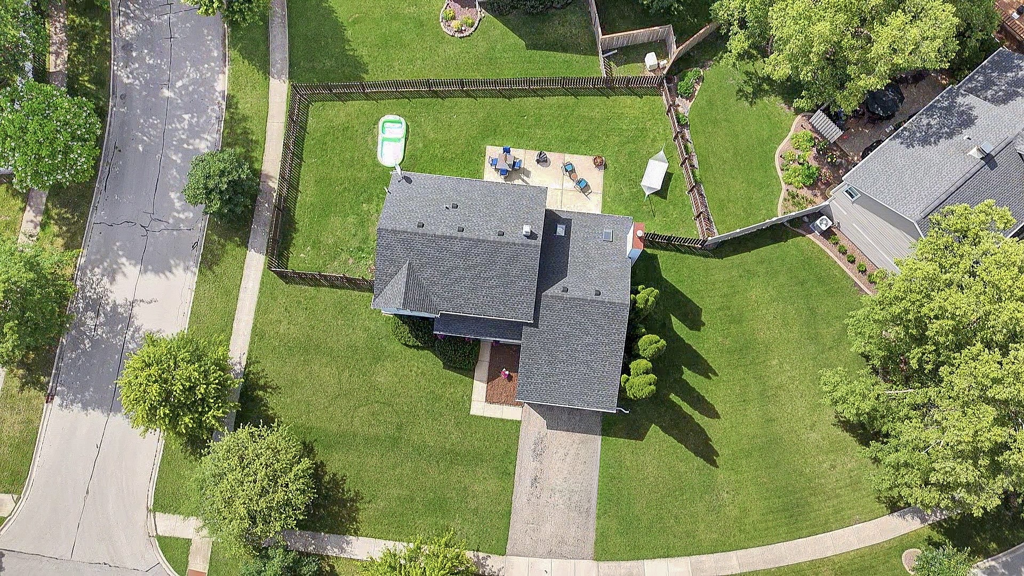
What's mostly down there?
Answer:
grass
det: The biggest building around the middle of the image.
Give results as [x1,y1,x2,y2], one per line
[372,169,647,417]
